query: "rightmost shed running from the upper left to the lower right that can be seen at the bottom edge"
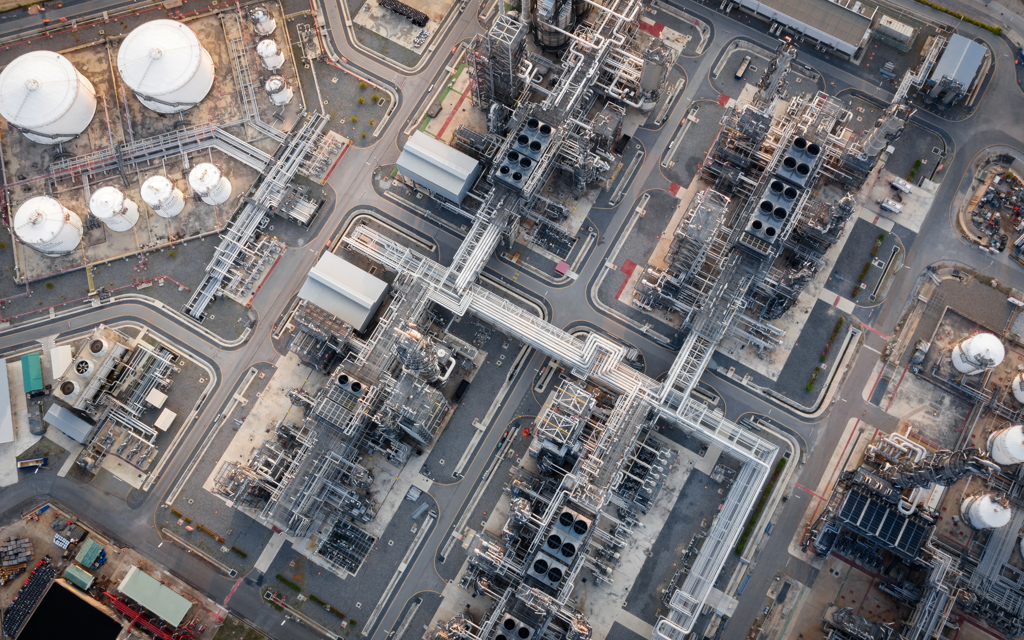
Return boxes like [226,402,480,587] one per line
[118,565,199,627]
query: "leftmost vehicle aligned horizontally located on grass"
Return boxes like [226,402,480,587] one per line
[18,456,48,469]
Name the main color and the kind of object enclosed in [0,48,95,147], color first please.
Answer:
white storage tank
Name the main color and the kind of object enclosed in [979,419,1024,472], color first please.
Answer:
white storage tank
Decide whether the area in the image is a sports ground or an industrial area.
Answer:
industrial area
